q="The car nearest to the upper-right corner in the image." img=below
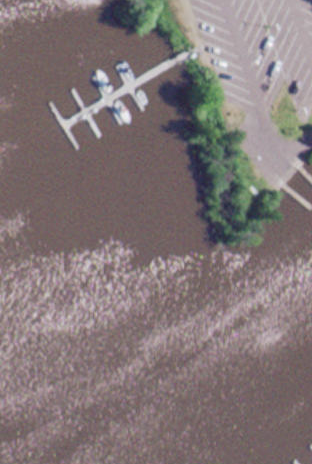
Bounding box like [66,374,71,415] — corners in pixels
[265,34,277,52]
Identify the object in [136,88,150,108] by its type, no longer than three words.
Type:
boat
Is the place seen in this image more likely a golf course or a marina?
marina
